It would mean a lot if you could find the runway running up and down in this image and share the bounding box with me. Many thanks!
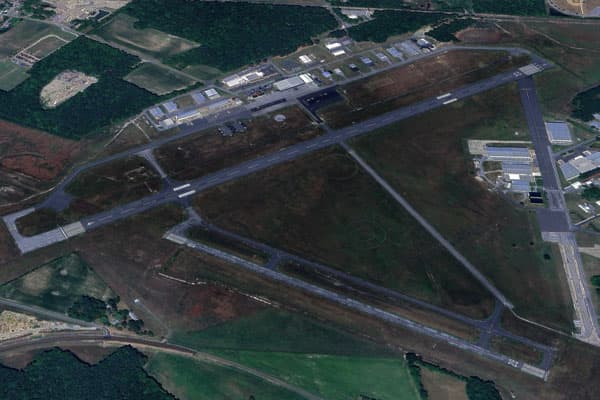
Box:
[517,74,564,207]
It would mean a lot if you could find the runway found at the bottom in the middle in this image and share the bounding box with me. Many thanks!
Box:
[163,233,548,380]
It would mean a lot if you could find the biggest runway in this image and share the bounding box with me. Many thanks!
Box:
[19,60,553,252]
